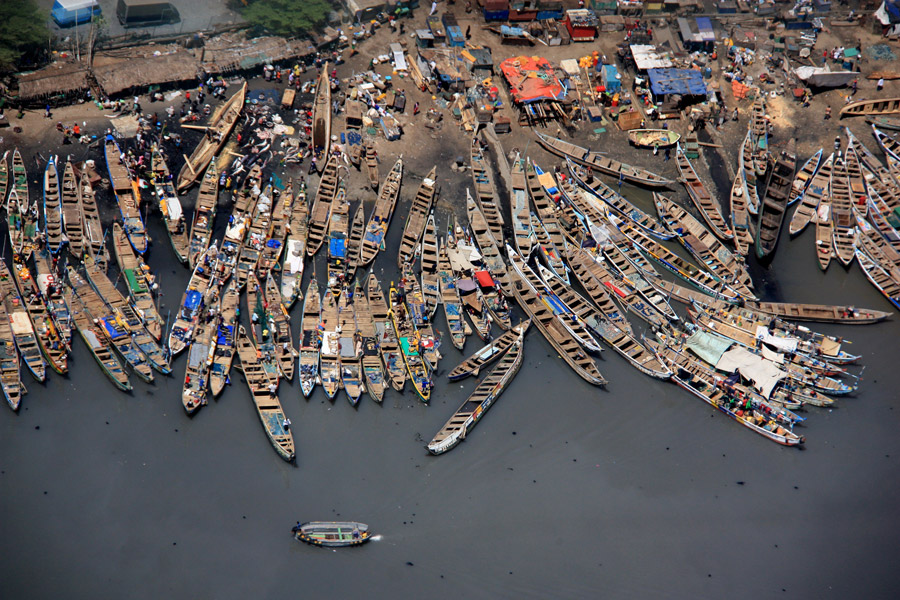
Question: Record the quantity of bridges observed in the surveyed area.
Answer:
none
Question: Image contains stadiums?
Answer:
No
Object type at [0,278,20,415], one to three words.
boat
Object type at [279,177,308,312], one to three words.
boat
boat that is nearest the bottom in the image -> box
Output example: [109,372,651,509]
[292,524,374,546]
